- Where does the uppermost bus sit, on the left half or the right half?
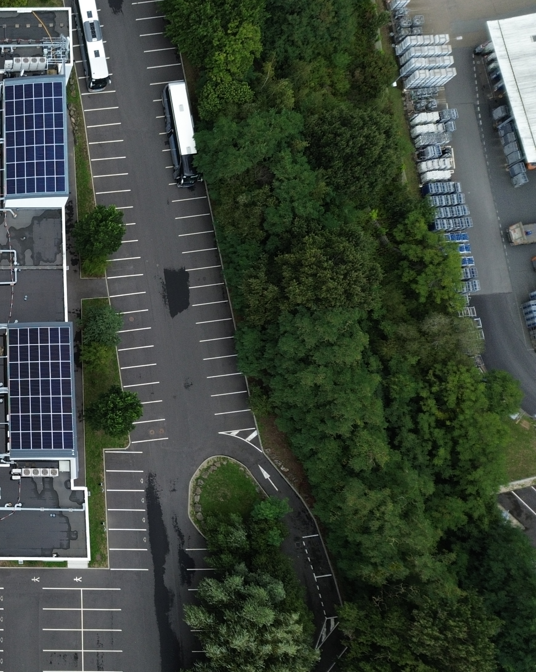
left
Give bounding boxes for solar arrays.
[5,82,65,196]
[8,326,73,449]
